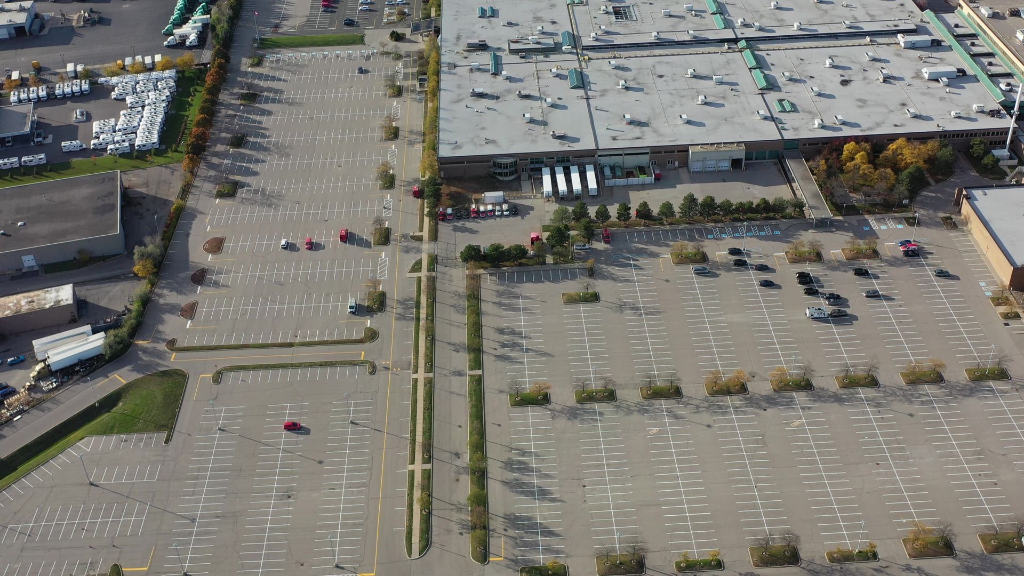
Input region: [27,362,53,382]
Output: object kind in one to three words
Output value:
vehicle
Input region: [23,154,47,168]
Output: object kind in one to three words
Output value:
camper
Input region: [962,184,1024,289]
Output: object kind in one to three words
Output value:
building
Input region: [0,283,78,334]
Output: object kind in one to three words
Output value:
shed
